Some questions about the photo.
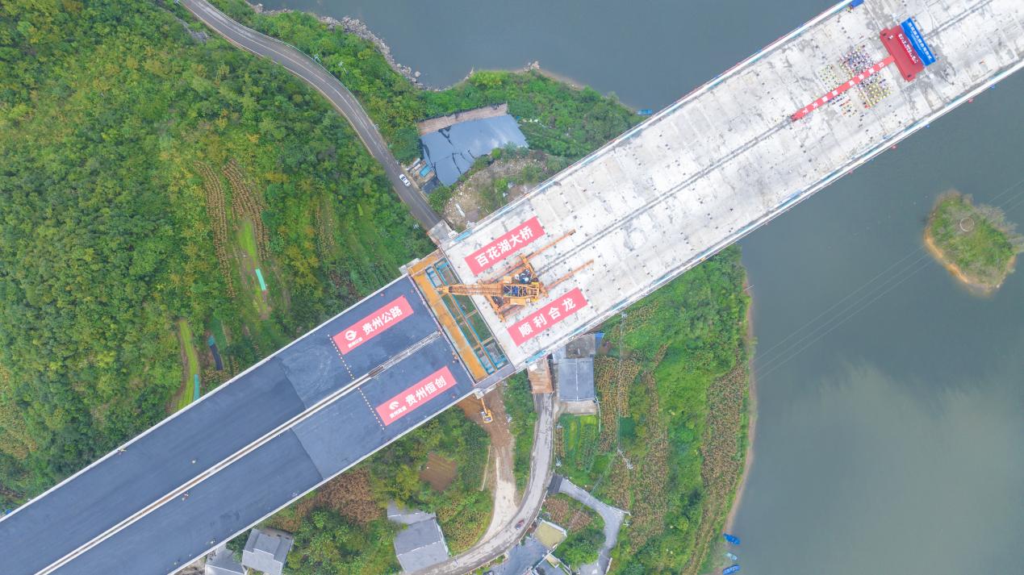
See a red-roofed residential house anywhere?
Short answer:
No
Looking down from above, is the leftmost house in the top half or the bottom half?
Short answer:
bottom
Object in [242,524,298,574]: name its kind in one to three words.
house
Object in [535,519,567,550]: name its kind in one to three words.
house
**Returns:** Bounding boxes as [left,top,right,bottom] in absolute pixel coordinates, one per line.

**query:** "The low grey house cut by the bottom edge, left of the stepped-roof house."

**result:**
[203,542,249,575]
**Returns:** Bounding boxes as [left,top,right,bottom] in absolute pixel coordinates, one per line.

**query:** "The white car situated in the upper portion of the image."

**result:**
[397,173,410,187]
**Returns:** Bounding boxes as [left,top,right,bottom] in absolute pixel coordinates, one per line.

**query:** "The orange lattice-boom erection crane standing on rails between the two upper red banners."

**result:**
[430,248,551,322]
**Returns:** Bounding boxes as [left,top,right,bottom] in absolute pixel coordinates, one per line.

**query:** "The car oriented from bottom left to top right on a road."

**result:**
[513,518,526,533]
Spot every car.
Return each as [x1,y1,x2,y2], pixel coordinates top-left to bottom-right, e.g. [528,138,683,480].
[397,173,410,187]
[513,518,526,533]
